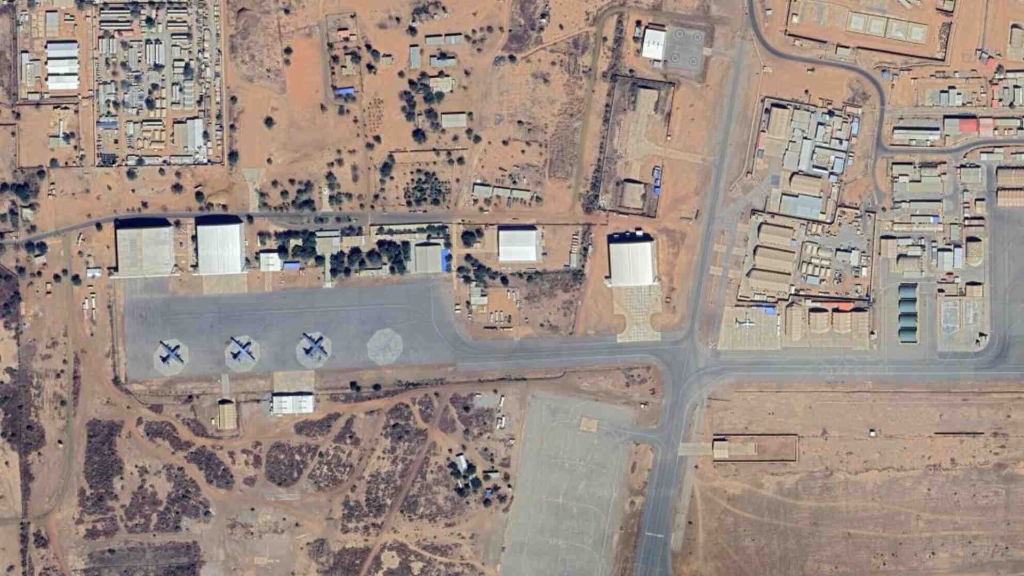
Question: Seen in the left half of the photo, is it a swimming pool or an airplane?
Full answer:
You can see an airplane in the left half of the photo.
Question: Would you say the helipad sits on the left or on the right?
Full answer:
The helipad appears in the right half of the scene.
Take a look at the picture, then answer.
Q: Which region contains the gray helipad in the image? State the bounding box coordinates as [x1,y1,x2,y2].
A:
[662,22,735,70]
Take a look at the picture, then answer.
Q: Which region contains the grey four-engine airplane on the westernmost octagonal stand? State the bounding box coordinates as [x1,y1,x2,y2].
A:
[162,343,185,366]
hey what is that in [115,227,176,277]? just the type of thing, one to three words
hangar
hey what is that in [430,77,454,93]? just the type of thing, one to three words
house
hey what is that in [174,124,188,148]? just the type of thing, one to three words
building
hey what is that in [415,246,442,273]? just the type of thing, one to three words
hangar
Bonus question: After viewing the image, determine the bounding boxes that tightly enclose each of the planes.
[304,335,327,358]
[162,343,185,366]
[232,340,256,363]
[738,316,755,333]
